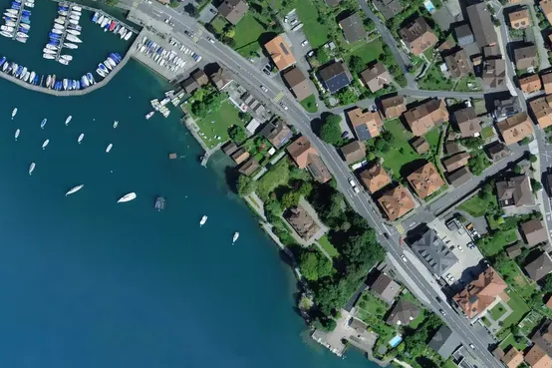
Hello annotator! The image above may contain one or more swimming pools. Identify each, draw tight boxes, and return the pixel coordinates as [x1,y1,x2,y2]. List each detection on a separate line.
[386,333,405,350]
[422,0,436,15]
